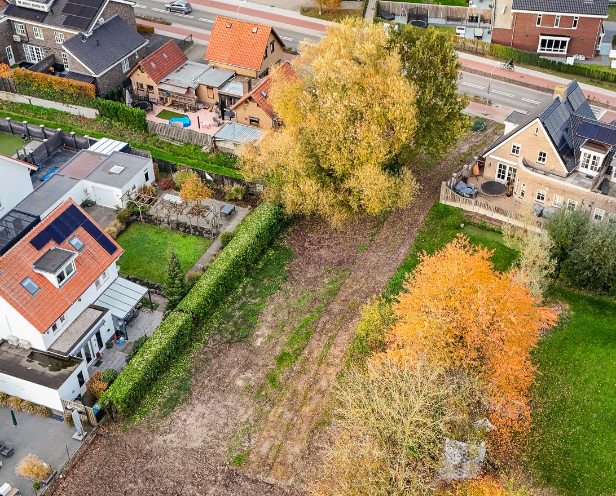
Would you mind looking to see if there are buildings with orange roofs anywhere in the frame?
Yes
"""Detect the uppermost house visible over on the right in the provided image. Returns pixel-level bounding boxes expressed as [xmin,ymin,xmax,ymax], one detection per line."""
[491,0,610,57]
